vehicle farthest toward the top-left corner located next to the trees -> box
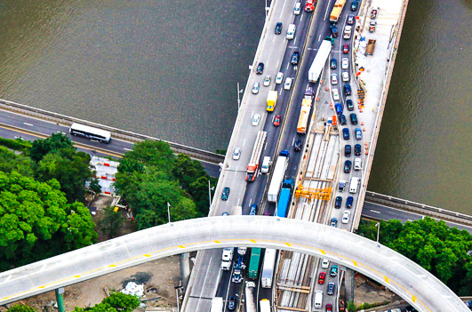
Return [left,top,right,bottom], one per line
[70,125,111,145]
